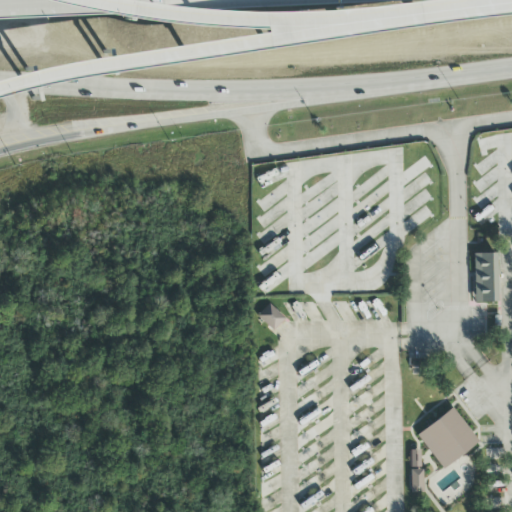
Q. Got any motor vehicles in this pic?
Yes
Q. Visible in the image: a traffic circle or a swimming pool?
swimming pool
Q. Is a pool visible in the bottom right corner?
Yes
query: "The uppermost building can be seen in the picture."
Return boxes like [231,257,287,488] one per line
[476,253,500,302]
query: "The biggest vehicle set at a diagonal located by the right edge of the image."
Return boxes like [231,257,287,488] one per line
[474,205,495,221]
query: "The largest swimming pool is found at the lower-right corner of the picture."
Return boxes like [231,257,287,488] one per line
[428,456,475,504]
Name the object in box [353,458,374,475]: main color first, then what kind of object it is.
white camper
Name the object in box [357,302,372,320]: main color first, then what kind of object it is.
white vehicle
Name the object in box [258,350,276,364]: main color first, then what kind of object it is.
white vehicle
